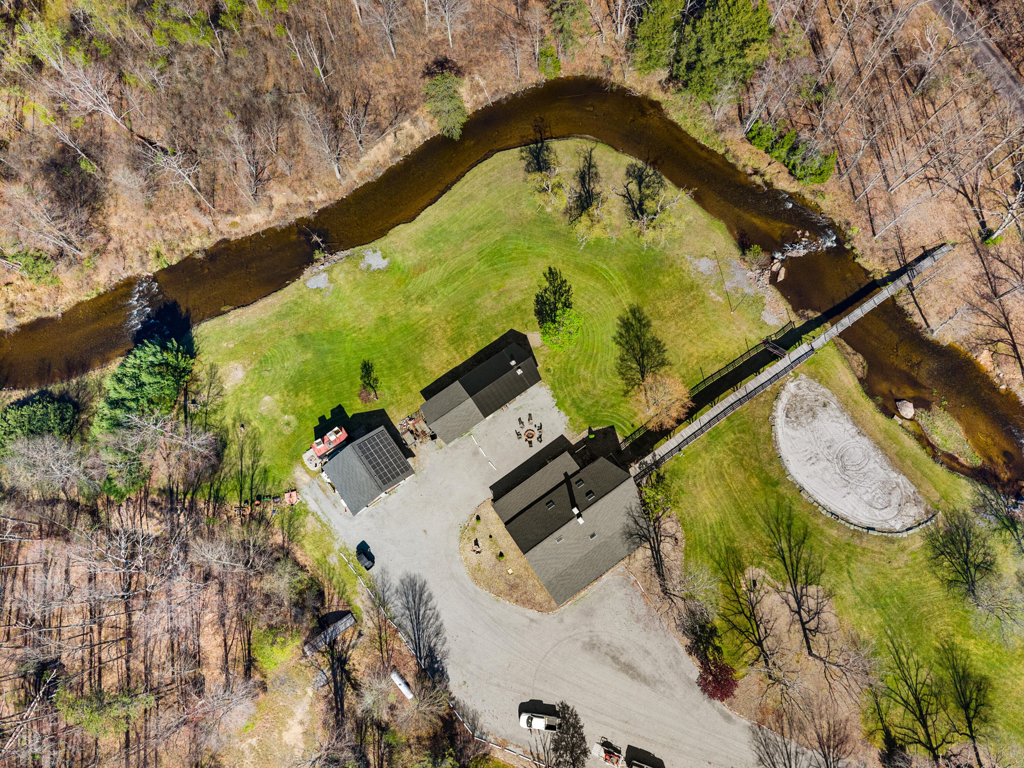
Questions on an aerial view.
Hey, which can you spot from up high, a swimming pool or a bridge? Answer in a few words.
bridge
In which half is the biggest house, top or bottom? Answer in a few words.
bottom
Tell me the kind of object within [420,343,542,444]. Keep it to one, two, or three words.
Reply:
building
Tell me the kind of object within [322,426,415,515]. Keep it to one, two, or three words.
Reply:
building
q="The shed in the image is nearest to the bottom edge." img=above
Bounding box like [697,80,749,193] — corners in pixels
[301,611,360,657]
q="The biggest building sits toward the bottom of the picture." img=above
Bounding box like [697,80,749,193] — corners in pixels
[492,451,653,607]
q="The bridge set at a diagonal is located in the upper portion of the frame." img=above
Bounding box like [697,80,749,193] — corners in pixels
[794,243,954,358]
